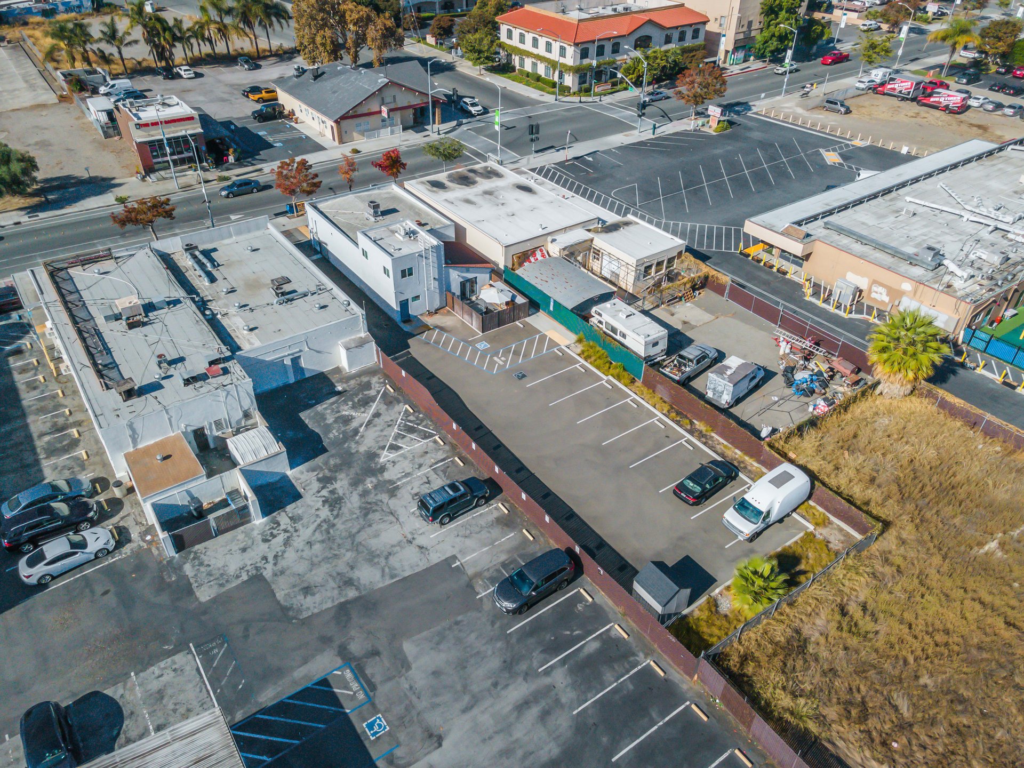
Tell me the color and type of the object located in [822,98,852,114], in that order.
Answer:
gray car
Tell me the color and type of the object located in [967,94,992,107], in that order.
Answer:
white vehicle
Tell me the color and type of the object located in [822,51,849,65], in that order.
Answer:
red vehicle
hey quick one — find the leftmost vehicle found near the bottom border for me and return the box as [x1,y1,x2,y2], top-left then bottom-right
[13,698,84,768]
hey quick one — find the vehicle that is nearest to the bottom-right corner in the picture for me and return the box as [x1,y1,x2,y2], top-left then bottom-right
[714,468,809,547]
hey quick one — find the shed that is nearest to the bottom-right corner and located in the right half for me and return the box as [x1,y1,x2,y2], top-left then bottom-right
[627,556,695,624]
